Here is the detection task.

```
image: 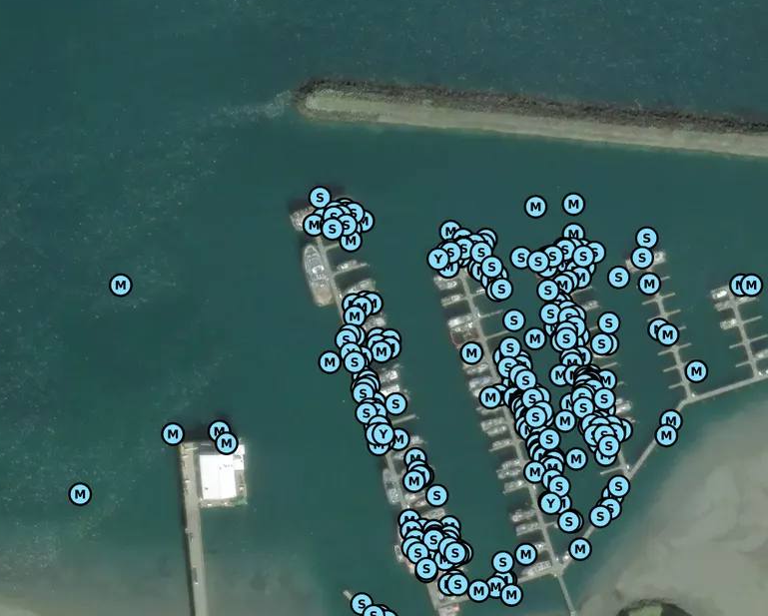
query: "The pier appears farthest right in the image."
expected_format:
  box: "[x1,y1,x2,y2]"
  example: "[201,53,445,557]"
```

[709,288,768,379]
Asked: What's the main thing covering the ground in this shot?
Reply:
water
